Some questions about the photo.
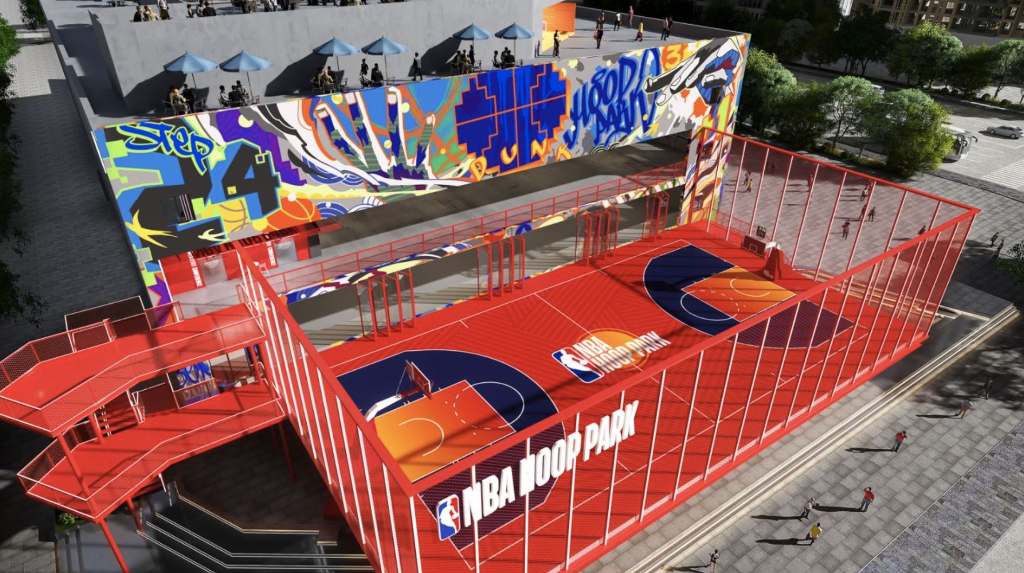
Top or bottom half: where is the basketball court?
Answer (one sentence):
The basketball court sits in the bottom half of the picture.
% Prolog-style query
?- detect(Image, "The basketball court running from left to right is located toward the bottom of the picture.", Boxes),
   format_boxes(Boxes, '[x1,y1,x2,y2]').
[265,221,938,573]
